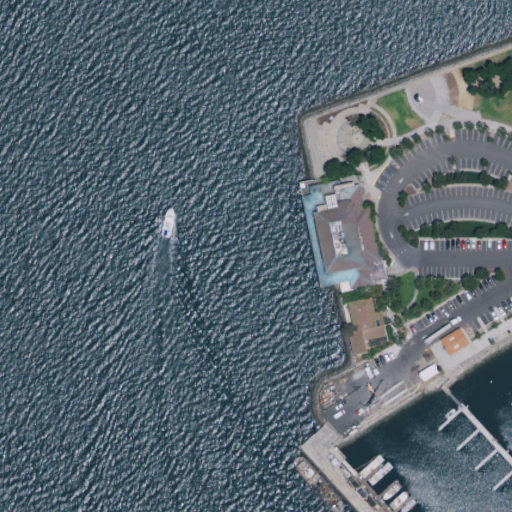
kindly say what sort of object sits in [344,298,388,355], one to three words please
building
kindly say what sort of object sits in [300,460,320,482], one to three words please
boat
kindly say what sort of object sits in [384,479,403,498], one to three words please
boat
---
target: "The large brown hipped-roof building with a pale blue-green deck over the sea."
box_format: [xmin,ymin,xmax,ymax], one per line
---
[300,179,390,292]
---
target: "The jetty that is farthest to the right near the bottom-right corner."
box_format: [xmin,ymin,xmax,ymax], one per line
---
[438,384,512,507]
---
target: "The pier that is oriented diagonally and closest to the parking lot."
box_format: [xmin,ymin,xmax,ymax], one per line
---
[301,421,392,512]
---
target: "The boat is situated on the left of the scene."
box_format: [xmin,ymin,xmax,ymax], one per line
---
[160,208,174,239]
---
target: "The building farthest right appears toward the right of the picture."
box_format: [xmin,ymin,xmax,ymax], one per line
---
[442,328,470,355]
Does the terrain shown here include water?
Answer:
Yes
